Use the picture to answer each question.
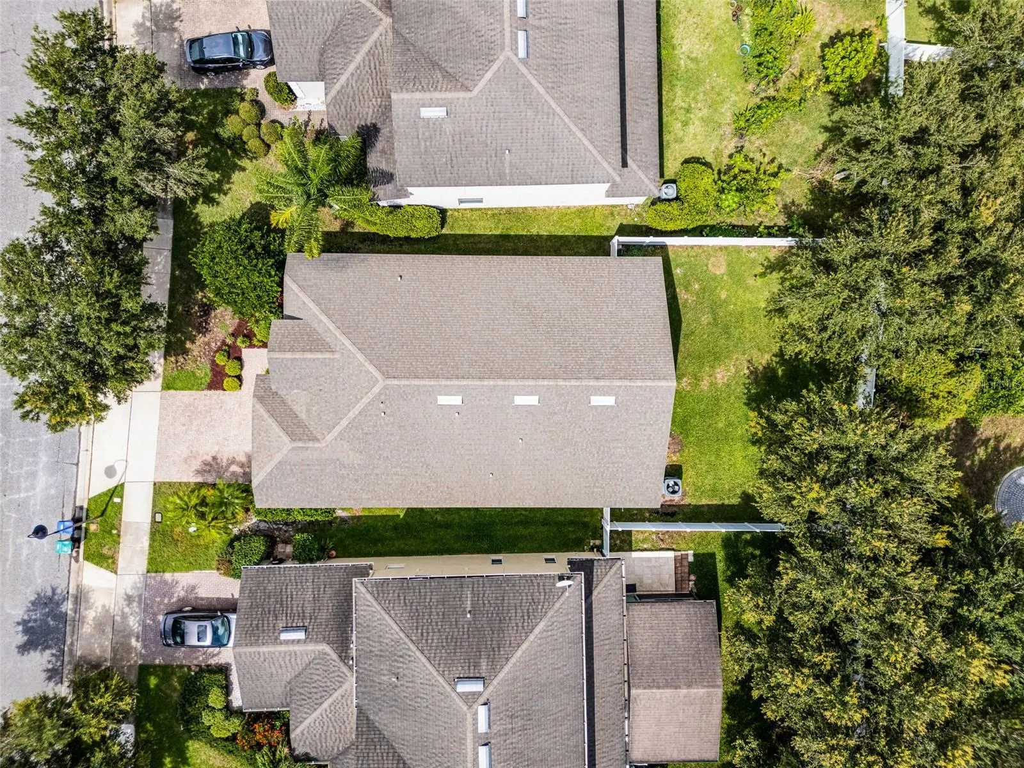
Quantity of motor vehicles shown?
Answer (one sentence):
The count of motor vehicles comes to 2.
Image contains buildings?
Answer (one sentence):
Yes, there's a building down there.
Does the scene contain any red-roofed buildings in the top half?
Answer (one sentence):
No, no red-roofed building can be made out in the top half.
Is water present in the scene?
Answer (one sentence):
No, there is no water in the image.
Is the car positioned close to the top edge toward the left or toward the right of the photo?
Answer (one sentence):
The car positioned close to the top edge appears in the left half of the scene.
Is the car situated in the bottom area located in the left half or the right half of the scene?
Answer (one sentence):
It is on the left.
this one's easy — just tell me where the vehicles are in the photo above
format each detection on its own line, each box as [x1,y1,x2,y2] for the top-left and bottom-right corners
[161,608,238,652]
[184,25,276,77]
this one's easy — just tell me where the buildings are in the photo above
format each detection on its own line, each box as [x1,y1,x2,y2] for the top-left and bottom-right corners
[233,550,631,768]
[267,0,660,207]
[251,254,676,508]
